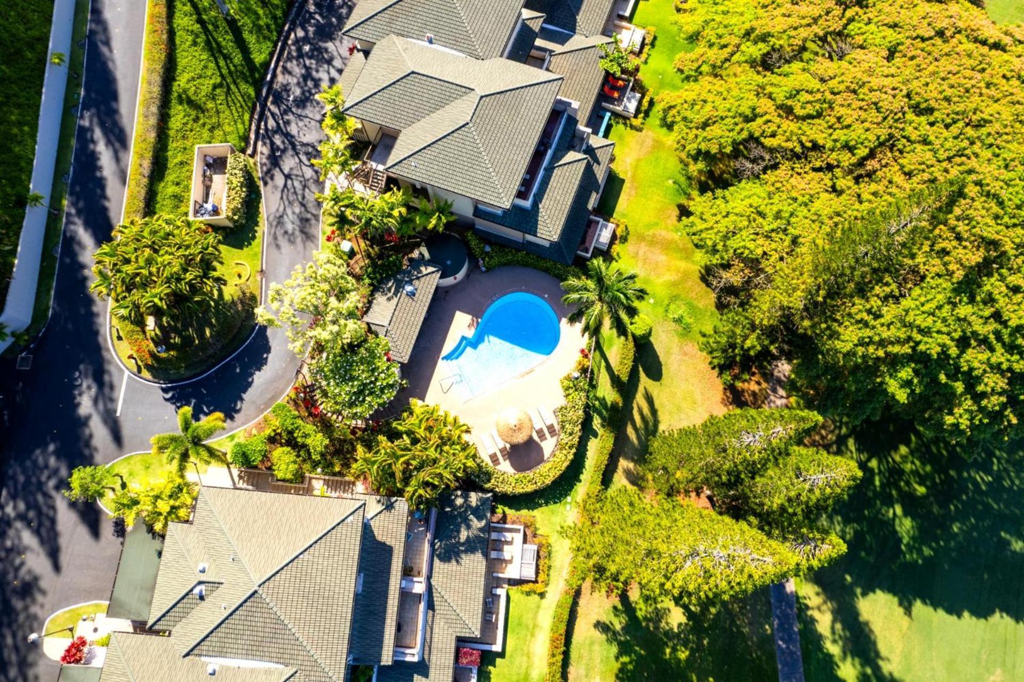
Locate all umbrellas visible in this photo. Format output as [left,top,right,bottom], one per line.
[494,405,534,445]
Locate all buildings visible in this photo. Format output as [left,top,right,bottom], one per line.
[99,484,494,682]
[362,256,443,365]
[325,31,616,269]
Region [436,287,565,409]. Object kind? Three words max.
swimming pool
